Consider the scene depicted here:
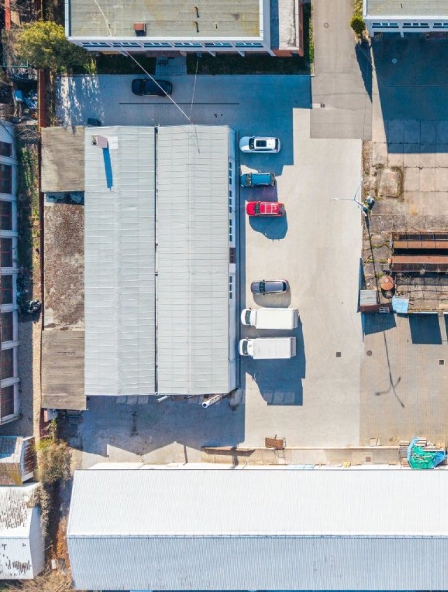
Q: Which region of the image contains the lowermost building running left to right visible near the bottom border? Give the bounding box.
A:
[69,461,448,591]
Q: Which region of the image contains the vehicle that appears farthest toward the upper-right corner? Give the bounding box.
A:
[242,136,280,153]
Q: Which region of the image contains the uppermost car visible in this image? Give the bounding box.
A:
[133,78,173,97]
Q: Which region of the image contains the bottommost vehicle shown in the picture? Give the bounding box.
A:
[242,336,298,358]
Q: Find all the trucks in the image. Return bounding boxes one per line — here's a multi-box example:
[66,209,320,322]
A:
[243,308,300,330]
[242,336,298,358]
